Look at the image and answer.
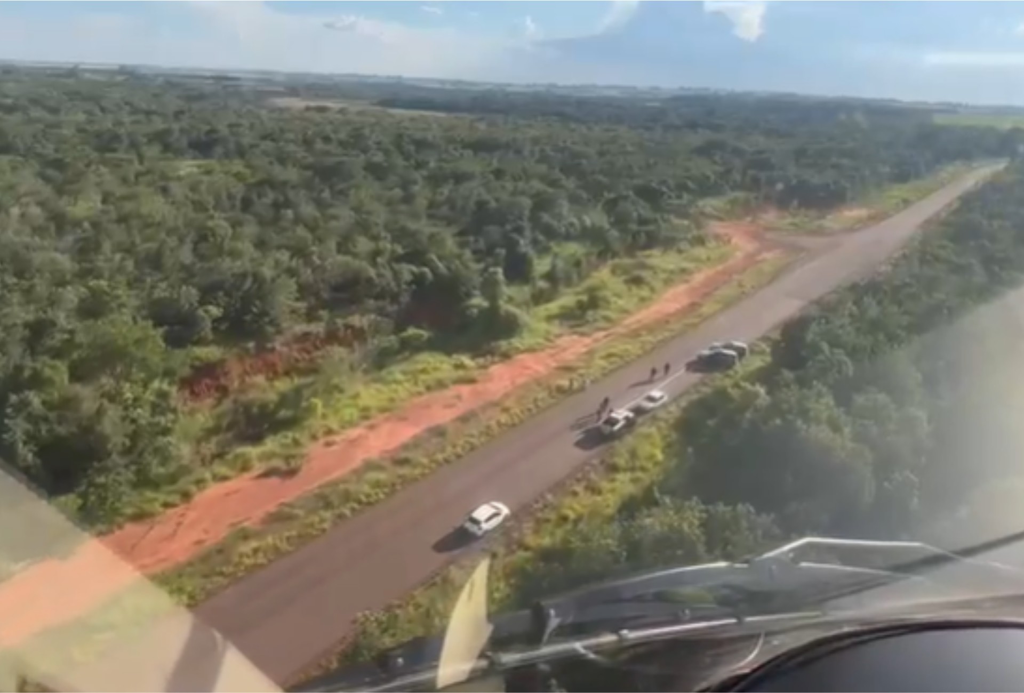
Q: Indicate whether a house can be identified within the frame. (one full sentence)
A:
No, I find no house anywhere in the image.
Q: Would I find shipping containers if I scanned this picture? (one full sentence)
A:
No, there's no shipping container here.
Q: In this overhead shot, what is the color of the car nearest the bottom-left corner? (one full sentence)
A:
The car nearest the bottom-left corner is white.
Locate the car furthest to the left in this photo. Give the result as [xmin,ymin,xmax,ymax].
[462,500,512,534]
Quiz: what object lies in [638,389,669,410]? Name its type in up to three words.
car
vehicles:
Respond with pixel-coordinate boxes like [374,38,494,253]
[597,404,639,434]
[638,389,669,410]
[709,340,753,357]
[695,348,740,369]
[462,500,512,534]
